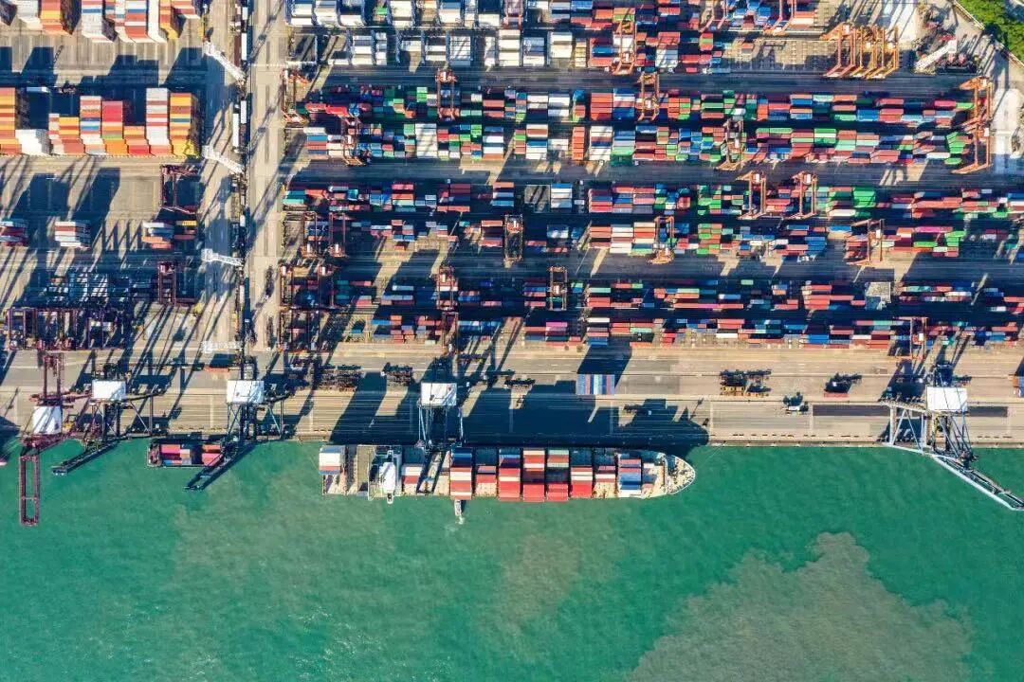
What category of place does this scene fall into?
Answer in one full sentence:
What you see here is a port.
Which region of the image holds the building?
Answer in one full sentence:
The building is located in the right region of the scene.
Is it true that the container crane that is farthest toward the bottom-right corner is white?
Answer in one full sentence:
Yes, the container crane that is farthest toward the bottom-right corner is white.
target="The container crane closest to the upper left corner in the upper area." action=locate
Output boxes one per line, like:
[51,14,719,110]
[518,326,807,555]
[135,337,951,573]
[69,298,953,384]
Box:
[160,164,195,217]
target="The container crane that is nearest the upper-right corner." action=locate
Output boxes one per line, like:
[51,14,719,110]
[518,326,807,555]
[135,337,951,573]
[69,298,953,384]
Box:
[950,76,991,132]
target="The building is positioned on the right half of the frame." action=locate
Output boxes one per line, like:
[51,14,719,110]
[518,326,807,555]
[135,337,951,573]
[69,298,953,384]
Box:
[861,284,889,309]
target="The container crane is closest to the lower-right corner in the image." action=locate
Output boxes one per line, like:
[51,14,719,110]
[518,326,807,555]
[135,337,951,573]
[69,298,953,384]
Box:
[868,368,1024,504]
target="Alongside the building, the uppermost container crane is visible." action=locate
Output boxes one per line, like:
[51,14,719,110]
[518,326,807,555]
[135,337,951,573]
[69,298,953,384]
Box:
[849,216,885,271]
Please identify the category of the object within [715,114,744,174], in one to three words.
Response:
container crane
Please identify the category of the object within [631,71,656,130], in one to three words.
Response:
container crane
